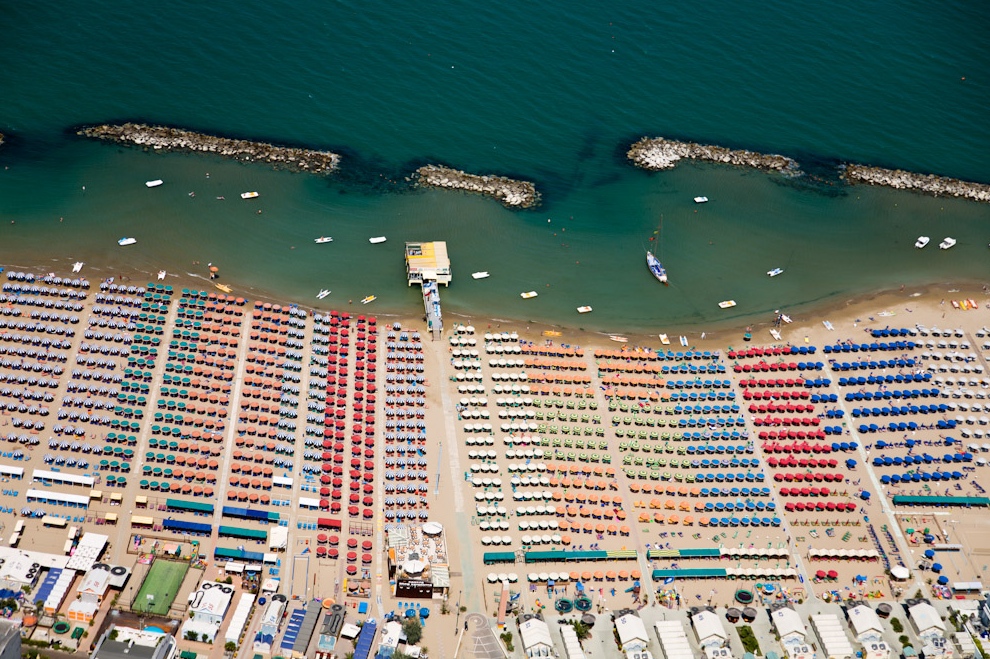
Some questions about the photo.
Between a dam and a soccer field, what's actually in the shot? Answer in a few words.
soccer field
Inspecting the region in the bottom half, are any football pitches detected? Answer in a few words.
Yes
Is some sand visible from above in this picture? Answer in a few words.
Yes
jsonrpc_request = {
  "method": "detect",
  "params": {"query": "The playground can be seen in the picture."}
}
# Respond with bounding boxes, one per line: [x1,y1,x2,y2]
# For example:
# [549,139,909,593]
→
[755,581,788,604]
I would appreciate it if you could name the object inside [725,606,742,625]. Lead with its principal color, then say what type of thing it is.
gray umbrella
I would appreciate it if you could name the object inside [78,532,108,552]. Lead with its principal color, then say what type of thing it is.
white tent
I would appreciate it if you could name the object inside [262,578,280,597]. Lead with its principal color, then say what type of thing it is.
white gazebo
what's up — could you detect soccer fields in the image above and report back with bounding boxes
[131,548,189,615]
